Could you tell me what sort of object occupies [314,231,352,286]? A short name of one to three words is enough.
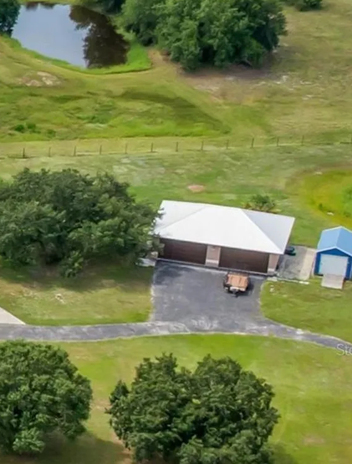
shed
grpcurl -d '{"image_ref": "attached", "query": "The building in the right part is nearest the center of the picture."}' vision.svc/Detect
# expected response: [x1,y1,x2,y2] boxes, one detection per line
[150,201,296,275]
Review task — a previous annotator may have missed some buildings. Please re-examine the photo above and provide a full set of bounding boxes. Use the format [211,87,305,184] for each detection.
[150,201,296,275]
[314,231,352,286]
